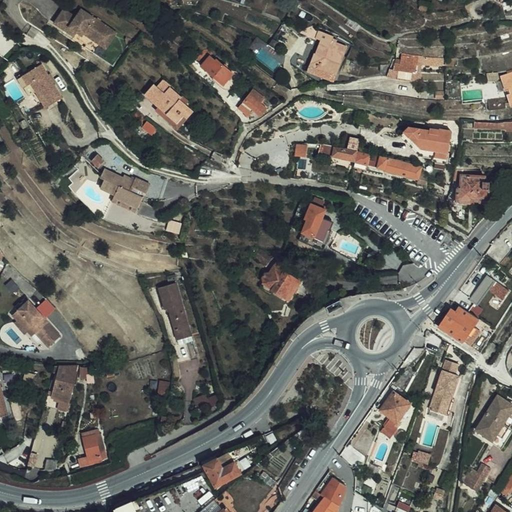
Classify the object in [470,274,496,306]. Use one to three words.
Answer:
shed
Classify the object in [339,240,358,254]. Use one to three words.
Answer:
swimming pool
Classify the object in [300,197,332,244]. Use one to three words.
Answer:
house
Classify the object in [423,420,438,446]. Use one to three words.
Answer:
swimming pool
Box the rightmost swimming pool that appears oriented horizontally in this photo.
[462,89,483,101]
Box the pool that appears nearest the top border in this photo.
[255,48,281,70]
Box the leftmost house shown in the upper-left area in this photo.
[16,63,61,108]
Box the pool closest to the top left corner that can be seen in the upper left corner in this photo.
[6,80,24,102]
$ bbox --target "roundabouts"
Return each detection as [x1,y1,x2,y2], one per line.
[340,299,410,369]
